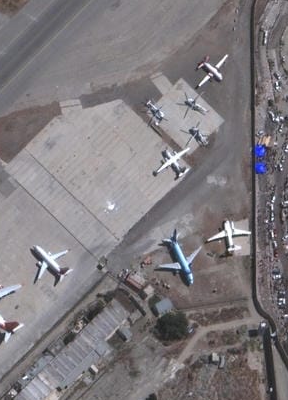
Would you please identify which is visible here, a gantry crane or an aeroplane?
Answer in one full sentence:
There is an aeroplane in the scene.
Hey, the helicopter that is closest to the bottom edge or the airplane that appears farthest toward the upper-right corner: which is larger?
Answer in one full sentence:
The airplane takes up more space than the helicopter does.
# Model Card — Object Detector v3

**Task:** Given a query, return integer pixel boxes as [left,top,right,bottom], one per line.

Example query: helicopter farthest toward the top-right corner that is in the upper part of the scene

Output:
[179,93,209,117]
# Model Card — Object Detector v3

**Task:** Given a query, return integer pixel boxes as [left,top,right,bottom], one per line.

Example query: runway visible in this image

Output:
[0,0,90,90]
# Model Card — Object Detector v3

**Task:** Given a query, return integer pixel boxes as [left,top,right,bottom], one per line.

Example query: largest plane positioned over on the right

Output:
[155,232,200,287]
